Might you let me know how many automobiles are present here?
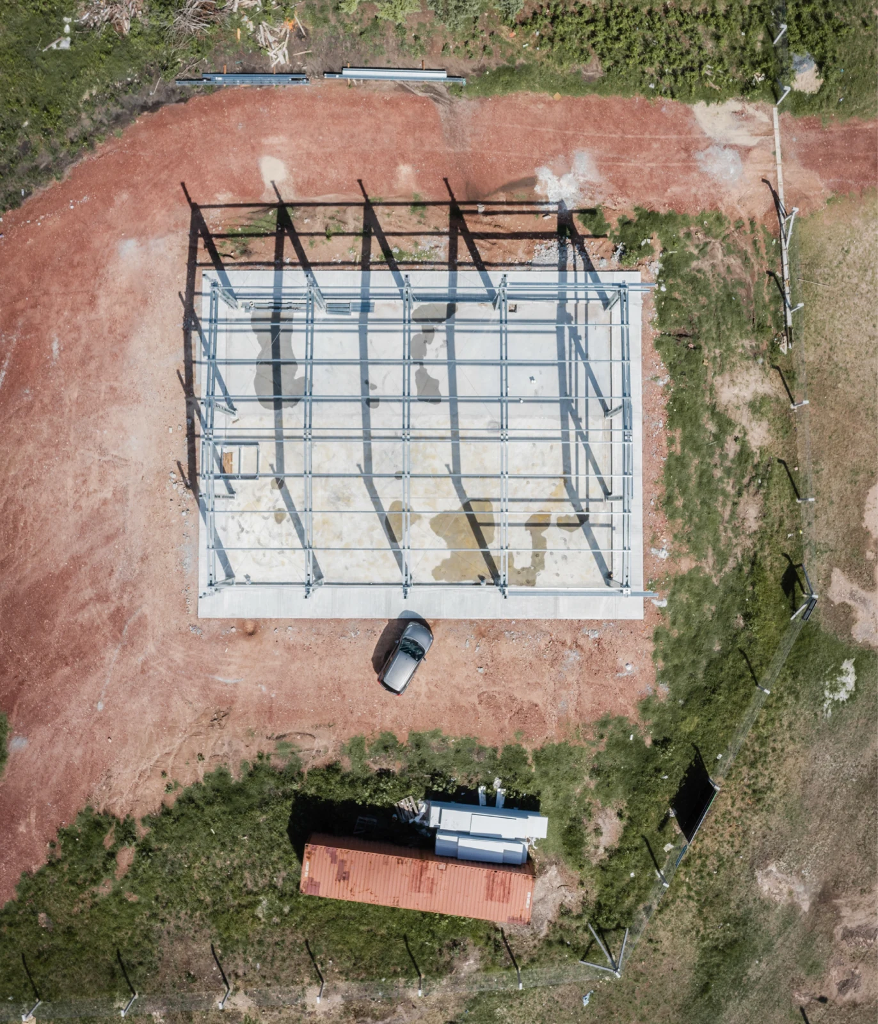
1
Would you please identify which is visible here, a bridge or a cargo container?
cargo container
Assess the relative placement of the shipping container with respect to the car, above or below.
below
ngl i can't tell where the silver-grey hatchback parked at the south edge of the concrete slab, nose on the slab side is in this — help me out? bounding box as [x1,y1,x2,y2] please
[377,620,431,695]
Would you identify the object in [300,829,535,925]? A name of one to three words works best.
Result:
shipping container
